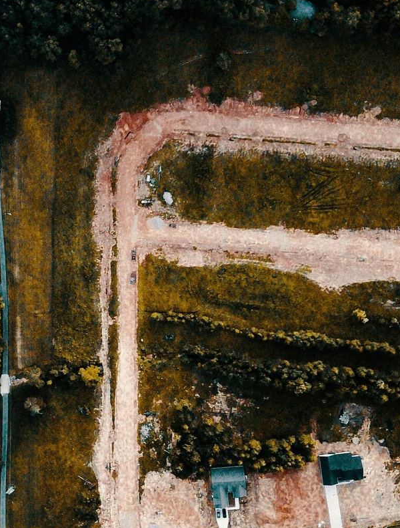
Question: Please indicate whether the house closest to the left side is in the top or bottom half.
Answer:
bottom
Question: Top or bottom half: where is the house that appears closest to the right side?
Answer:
bottom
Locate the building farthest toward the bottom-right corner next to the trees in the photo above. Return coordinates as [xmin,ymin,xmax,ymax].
[319,453,364,485]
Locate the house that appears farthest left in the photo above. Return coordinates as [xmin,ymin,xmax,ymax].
[210,464,248,510]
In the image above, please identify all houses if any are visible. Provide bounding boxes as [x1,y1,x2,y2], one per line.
[319,453,364,485]
[210,464,248,510]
